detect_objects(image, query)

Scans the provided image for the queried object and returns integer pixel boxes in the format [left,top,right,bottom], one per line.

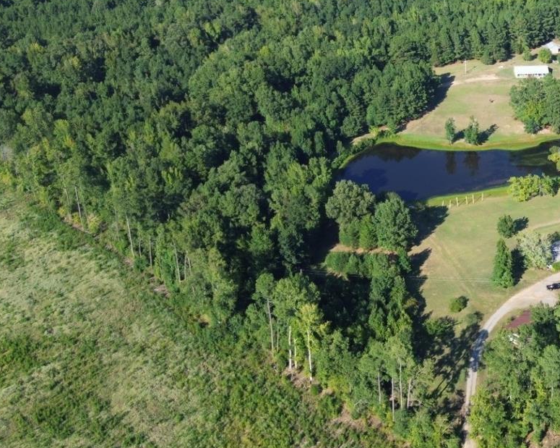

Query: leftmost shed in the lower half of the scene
[507,305,541,332]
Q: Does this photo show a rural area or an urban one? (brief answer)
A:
rural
